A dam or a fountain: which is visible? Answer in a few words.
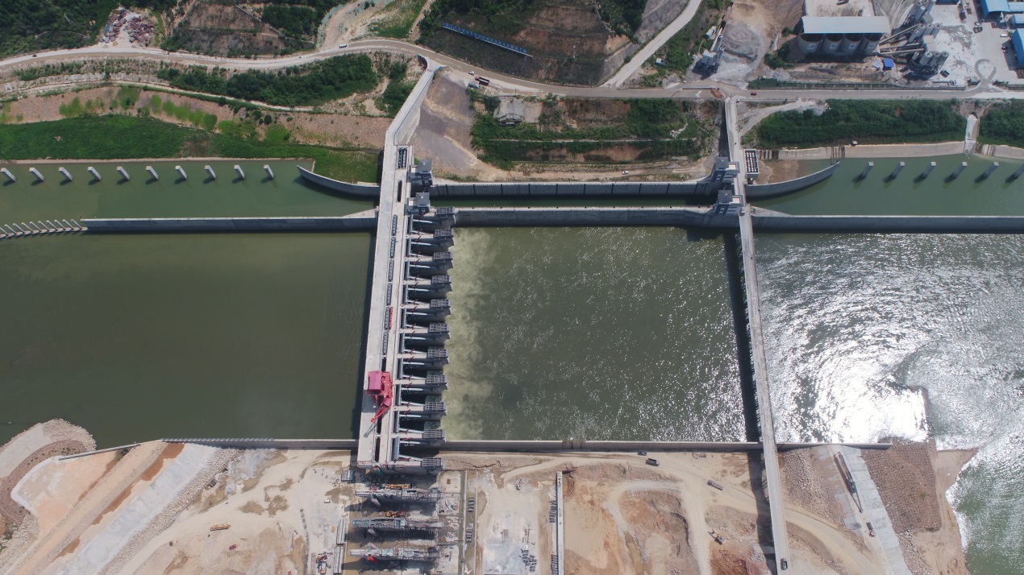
dam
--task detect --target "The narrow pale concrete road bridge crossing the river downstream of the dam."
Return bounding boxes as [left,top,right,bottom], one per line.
[720,97,791,575]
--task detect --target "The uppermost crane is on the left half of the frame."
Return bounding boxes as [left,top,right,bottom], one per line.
[365,373,398,428]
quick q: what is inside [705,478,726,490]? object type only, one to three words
vehicle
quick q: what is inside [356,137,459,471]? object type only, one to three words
dam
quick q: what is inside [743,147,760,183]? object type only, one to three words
building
